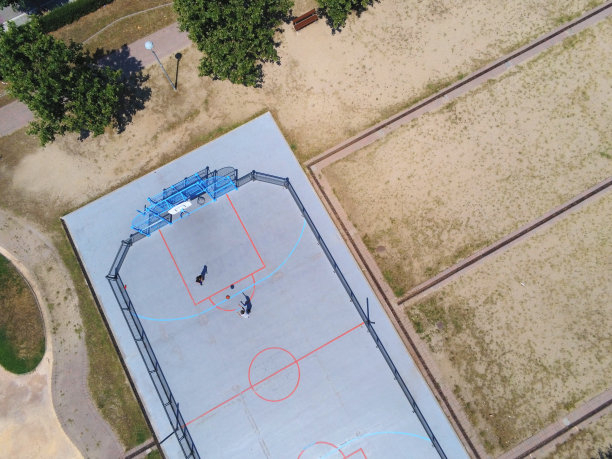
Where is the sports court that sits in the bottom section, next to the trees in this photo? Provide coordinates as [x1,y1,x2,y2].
[63,111,470,459]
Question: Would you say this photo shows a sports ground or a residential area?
sports ground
